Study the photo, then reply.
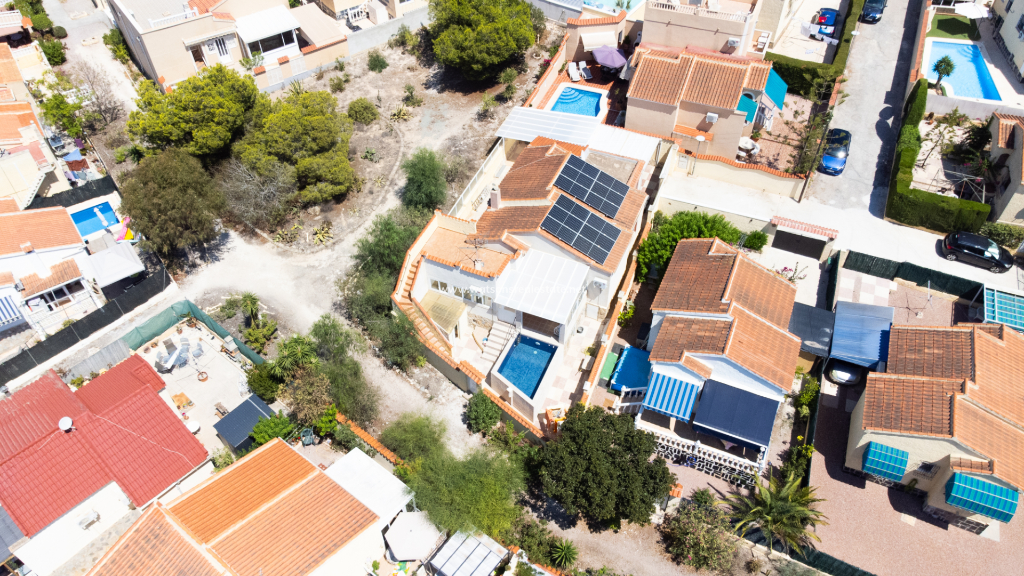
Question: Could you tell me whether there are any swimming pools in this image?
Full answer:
Yes, the frame does contain a swimming pool.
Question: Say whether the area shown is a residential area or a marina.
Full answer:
The area seen from above is a residential area.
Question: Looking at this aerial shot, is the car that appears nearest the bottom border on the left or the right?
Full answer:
The car that appears nearest the bottom border appears in the right half of the scene.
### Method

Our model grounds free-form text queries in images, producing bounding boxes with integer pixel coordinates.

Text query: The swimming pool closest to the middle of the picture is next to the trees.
[491,330,562,422]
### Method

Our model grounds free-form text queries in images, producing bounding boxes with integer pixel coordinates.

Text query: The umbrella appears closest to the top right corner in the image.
[951,3,993,37]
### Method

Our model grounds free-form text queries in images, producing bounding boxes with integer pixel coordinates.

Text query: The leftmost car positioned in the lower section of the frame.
[827,358,868,396]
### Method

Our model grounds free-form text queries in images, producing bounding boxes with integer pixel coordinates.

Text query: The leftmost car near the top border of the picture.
[813,13,841,40]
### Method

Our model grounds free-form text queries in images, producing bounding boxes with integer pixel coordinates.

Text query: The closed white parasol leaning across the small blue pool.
[94,206,118,238]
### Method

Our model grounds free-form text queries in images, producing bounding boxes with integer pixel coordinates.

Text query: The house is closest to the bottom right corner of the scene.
[847,319,1024,536]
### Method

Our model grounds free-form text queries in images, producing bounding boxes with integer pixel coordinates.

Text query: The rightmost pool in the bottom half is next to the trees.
[608,345,653,400]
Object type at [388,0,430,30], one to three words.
house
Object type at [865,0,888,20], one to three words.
car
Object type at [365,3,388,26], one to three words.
shed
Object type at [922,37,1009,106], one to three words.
swimming pool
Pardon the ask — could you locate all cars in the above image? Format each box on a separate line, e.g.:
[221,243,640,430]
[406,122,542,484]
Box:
[818,127,852,172]
[827,358,868,396]
[813,13,841,40]
[865,0,888,20]
[945,230,1023,276]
